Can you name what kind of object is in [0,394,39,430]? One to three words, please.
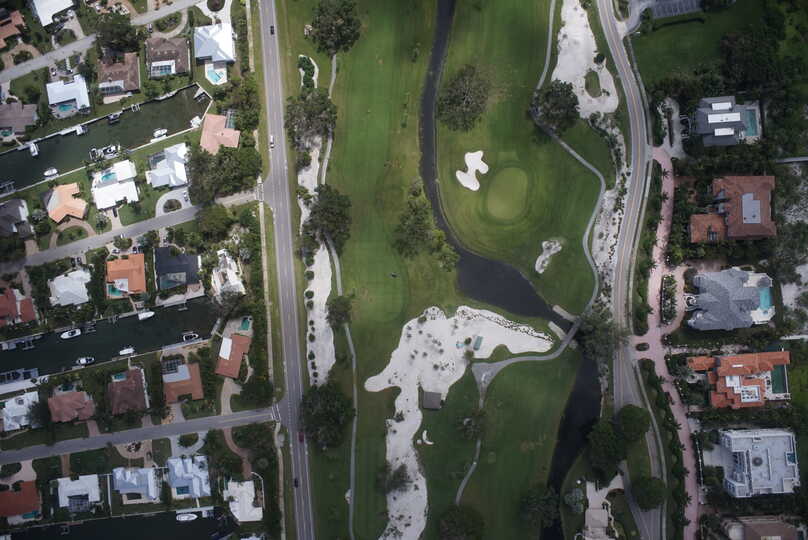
house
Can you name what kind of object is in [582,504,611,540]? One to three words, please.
building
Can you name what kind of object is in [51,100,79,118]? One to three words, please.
swimming pool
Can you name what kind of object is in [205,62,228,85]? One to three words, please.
swimming pool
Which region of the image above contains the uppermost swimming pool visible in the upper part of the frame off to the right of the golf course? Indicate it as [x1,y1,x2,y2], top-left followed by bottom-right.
[740,99,762,147]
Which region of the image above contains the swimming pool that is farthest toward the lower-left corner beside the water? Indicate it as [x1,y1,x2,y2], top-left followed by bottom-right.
[8,508,41,525]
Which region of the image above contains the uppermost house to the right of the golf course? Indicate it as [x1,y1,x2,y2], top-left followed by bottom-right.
[692,96,746,148]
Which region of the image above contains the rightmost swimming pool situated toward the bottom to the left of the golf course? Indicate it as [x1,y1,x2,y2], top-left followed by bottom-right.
[223,315,252,336]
